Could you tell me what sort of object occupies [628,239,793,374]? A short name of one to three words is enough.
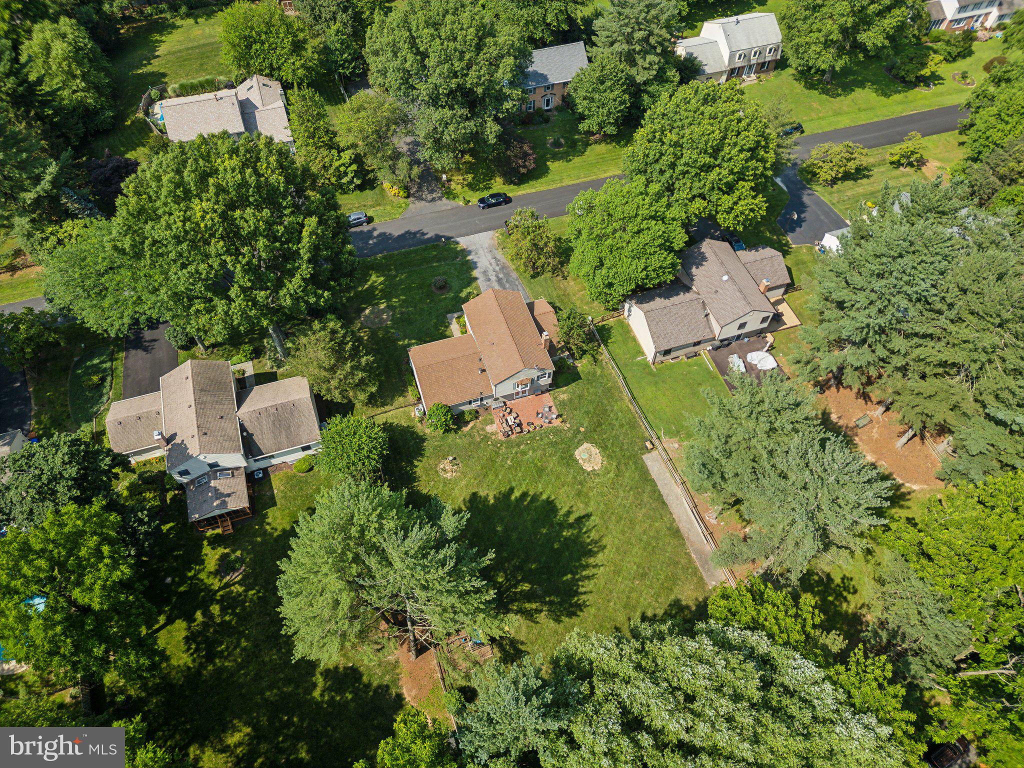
house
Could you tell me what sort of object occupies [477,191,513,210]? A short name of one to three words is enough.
car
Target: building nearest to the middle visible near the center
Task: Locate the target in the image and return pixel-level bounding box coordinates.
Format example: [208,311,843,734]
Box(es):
[407,288,570,418]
